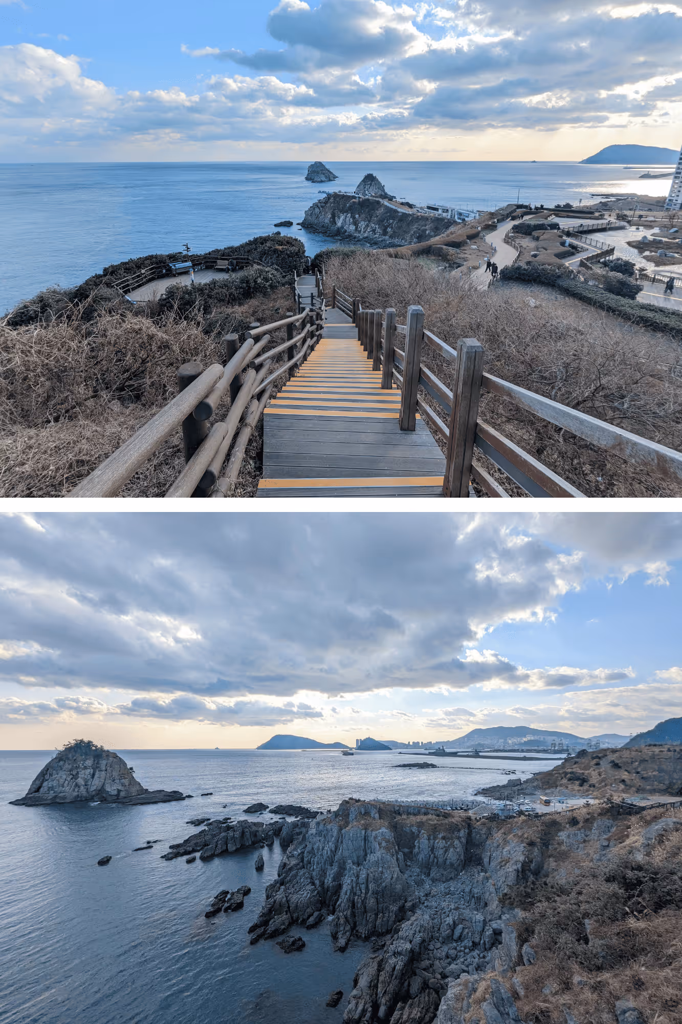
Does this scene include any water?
Yes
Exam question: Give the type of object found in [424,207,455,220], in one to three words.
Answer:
building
